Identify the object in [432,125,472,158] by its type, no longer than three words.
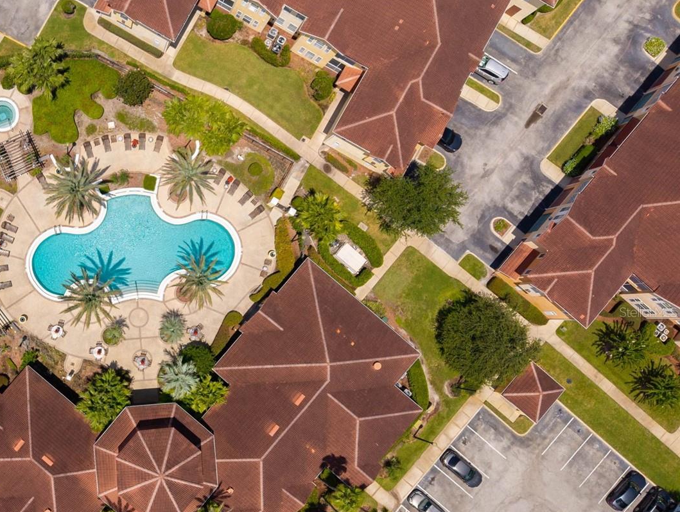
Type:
car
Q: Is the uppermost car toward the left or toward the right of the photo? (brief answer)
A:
right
